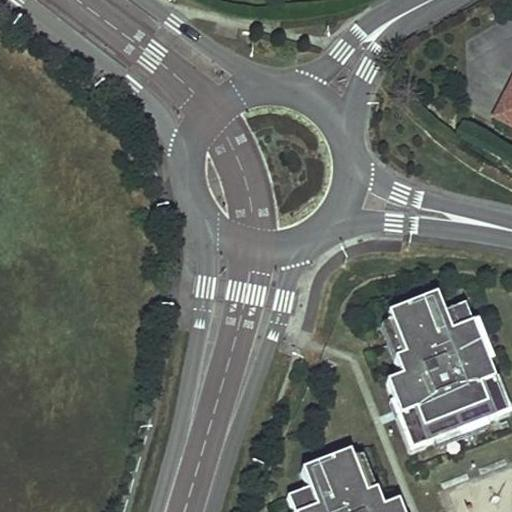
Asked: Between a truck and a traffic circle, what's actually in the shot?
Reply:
traffic circle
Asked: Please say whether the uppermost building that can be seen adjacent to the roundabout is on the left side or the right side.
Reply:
right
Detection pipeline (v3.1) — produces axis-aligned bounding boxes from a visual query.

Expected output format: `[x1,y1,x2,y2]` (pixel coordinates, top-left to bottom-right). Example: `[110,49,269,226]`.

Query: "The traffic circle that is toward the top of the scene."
[165,51,384,290]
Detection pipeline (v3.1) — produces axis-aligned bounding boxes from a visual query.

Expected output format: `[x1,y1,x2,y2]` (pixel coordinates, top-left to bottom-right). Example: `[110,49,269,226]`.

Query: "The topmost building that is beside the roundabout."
[380,288,512,454]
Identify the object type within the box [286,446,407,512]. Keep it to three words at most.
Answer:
building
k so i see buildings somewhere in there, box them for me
[380,288,512,454]
[492,74,512,126]
[286,446,407,512]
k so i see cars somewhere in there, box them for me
[180,24,202,42]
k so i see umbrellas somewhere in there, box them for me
[446,440,462,455]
